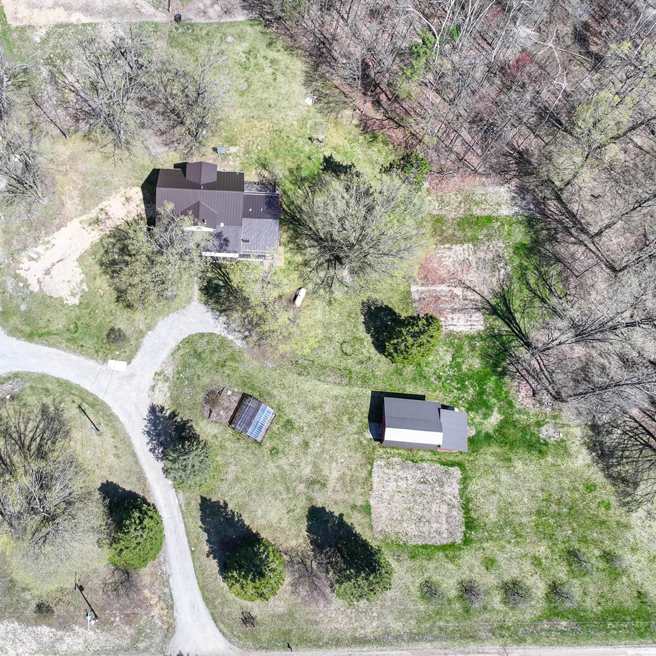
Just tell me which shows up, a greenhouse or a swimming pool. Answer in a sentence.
This aerial view contains a greenhouse.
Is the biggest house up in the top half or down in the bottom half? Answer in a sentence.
It is in the top half that the biggest house appears.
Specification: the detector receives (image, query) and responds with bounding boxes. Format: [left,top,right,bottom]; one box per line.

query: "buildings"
[155,157,279,270]
[370,400,464,453]
[228,394,279,444]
